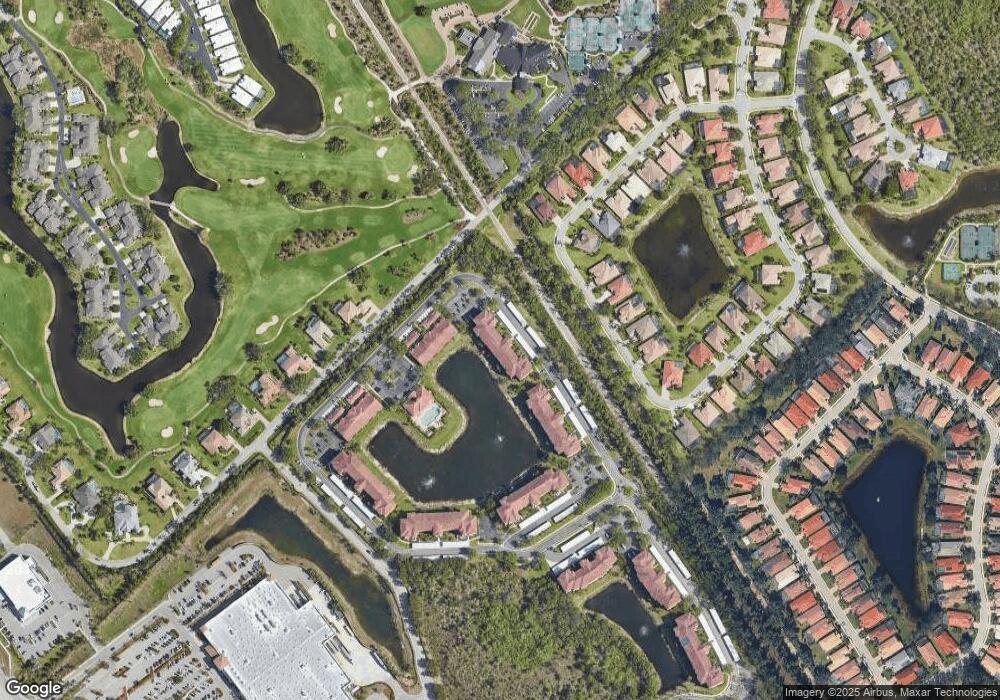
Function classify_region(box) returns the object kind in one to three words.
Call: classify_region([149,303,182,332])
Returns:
building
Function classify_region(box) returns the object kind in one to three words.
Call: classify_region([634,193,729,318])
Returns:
pond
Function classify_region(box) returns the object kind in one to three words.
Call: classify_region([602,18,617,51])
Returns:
tennis court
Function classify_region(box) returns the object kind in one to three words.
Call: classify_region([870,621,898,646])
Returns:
house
